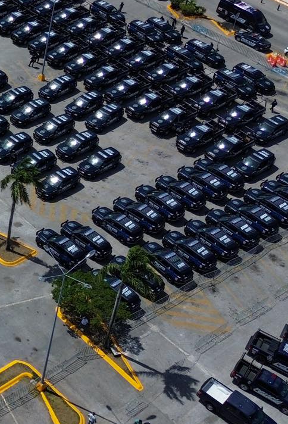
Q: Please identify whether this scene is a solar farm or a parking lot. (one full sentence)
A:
This image shows a parking lot.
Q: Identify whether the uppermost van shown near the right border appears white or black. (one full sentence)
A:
The uppermost van shown near the right border is black.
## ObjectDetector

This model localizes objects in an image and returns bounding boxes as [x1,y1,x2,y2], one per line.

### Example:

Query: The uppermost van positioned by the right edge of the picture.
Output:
[214,6,276,46]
